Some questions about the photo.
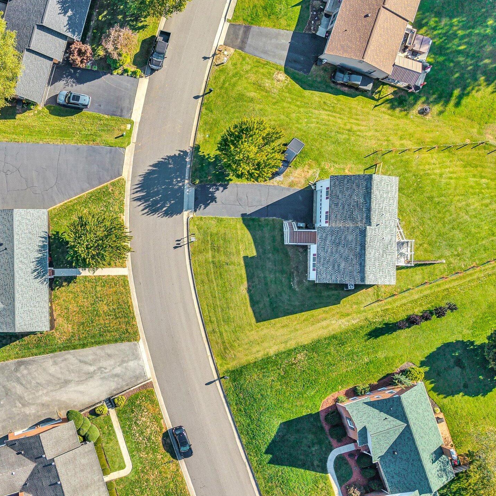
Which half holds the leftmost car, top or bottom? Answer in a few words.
top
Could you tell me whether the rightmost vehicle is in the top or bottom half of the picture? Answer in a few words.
top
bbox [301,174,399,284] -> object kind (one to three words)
house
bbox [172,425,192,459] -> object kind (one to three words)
car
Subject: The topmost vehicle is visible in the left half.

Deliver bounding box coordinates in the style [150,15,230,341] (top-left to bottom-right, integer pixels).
[150,27,175,71]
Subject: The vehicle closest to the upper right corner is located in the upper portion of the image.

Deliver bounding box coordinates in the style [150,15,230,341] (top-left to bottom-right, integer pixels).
[330,67,374,90]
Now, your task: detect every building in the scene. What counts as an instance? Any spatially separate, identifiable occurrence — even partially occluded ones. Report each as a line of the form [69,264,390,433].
[0,209,50,332]
[0,0,92,106]
[317,0,420,78]
[333,380,458,496]
[301,174,399,284]
[0,415,109,496]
